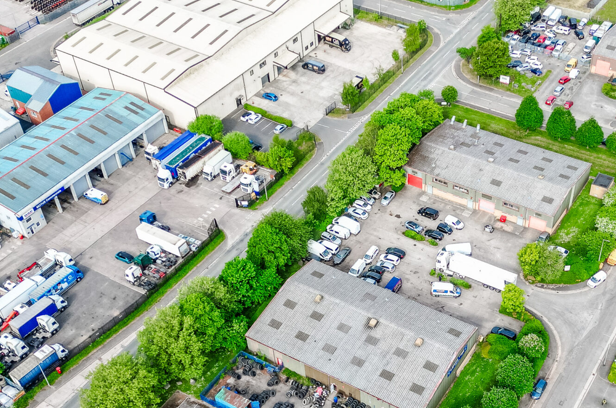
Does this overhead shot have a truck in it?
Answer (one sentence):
Yes, the photo shows a truck.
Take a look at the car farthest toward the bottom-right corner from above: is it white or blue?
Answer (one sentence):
From above, the car farthest toward the bottom-right corner appears blue.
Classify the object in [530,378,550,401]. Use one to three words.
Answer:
car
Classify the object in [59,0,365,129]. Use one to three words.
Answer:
warehouse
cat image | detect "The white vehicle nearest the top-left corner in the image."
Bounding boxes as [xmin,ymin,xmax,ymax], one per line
[69,0,125,31]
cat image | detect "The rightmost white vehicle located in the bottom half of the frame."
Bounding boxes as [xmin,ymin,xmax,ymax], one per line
[585,274,608,290]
